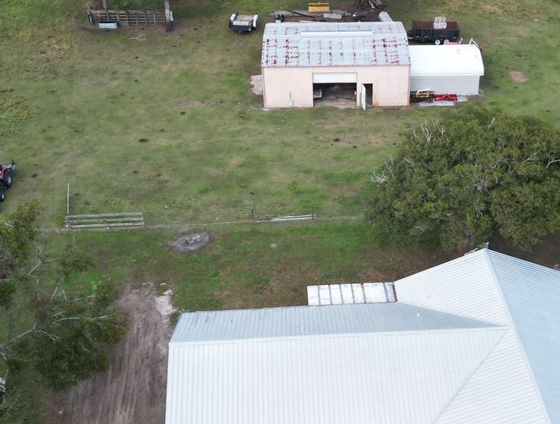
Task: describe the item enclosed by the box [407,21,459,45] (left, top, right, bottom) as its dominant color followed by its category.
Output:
black trailer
